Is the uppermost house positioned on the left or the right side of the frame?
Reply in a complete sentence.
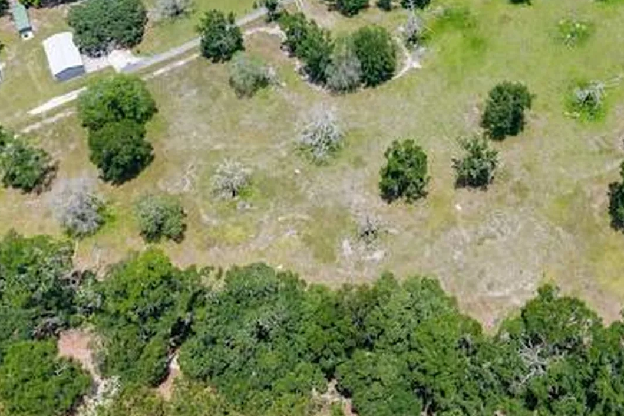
You can find the uppermost house on the left side of the picture.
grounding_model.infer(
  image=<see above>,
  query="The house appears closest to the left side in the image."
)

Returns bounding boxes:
[11,0,38,45]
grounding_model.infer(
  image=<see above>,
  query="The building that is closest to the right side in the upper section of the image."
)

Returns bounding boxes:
[45,30,85,82]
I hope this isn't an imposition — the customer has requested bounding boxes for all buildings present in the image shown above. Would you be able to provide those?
[11,0,38,45]
[45,30,85,82]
